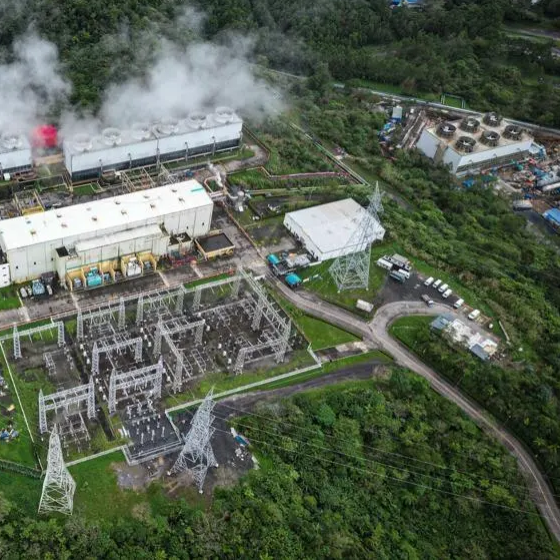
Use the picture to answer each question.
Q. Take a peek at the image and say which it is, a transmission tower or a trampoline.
transmission tower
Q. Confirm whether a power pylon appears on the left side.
Yes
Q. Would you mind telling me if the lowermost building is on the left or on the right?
right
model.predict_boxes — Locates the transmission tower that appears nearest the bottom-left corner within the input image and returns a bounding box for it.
[38,424,76,518]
